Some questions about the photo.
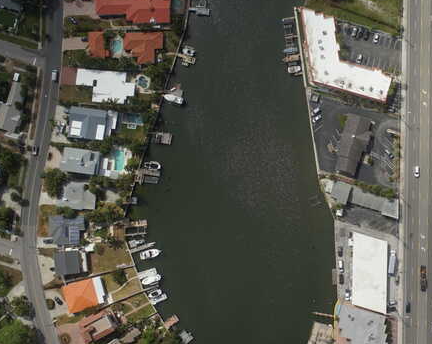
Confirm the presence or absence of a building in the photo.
Yes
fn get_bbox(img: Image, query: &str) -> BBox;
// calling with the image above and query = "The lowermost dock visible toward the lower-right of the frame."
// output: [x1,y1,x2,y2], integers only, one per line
[309,321,334,344]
